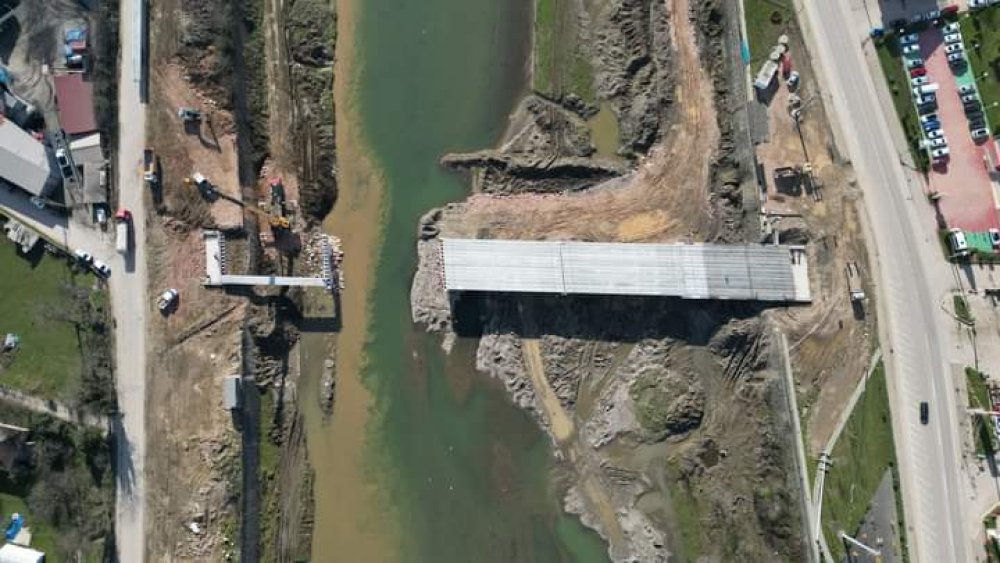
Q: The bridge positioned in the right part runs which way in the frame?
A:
horizontally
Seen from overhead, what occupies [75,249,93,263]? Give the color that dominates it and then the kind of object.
white car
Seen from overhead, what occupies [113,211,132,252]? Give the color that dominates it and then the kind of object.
white vehicle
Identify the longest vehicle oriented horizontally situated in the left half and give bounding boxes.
[181,107,218,121]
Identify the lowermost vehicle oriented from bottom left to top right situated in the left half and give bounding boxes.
[157,291,180,309]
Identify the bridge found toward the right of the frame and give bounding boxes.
[439,238,812,303]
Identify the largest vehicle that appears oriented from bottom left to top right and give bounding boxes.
[752,57,783,92]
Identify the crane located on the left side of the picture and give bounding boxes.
[184,163,281,225]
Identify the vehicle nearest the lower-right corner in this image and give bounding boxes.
[917,402,930,422]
